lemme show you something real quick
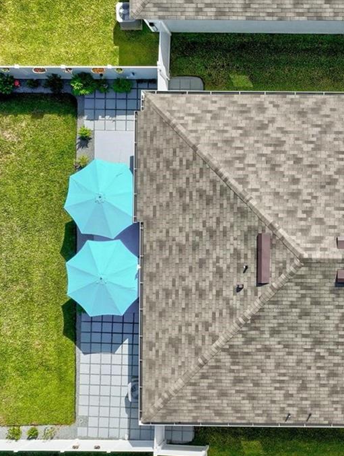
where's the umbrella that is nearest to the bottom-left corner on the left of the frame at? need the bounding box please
[68,241,140,316]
